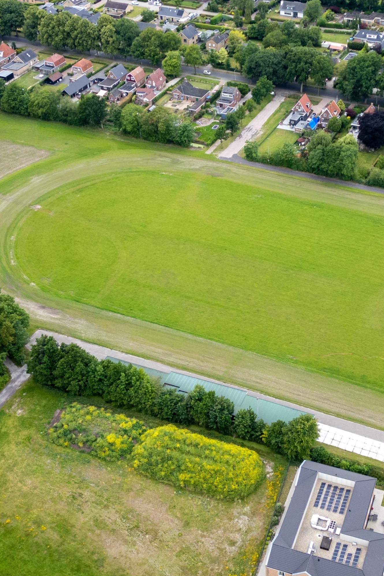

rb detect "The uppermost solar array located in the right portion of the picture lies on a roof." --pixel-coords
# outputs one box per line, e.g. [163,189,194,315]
[313,482,351,514]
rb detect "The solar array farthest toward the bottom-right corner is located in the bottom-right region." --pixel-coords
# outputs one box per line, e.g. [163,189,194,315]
[331,542,361,566]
